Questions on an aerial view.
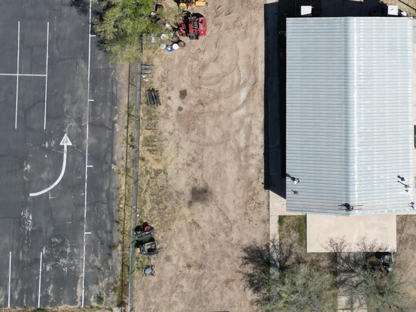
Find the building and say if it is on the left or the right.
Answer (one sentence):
The building appears in the right half of the scene.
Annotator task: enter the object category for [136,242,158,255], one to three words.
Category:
vehicle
